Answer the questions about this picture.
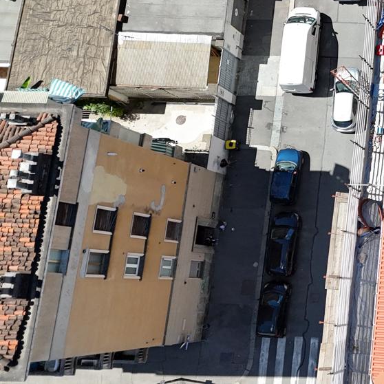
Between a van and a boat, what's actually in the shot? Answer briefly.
van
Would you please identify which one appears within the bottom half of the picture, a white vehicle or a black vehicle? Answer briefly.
black vehicle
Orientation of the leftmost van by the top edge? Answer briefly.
vertically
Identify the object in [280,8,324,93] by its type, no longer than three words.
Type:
van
